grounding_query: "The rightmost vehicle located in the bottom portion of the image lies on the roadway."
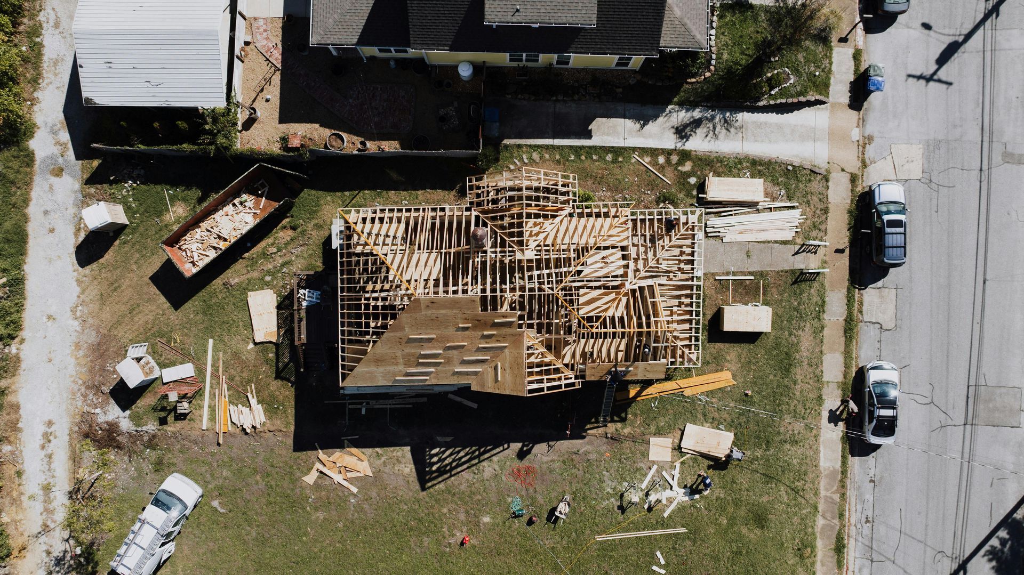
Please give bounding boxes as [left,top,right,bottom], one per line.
[856,360,903,443]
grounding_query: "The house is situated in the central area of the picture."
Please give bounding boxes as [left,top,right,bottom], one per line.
[338,167,705,397]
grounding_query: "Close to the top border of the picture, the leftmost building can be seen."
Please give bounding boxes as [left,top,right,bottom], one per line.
[72,0,232,114]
